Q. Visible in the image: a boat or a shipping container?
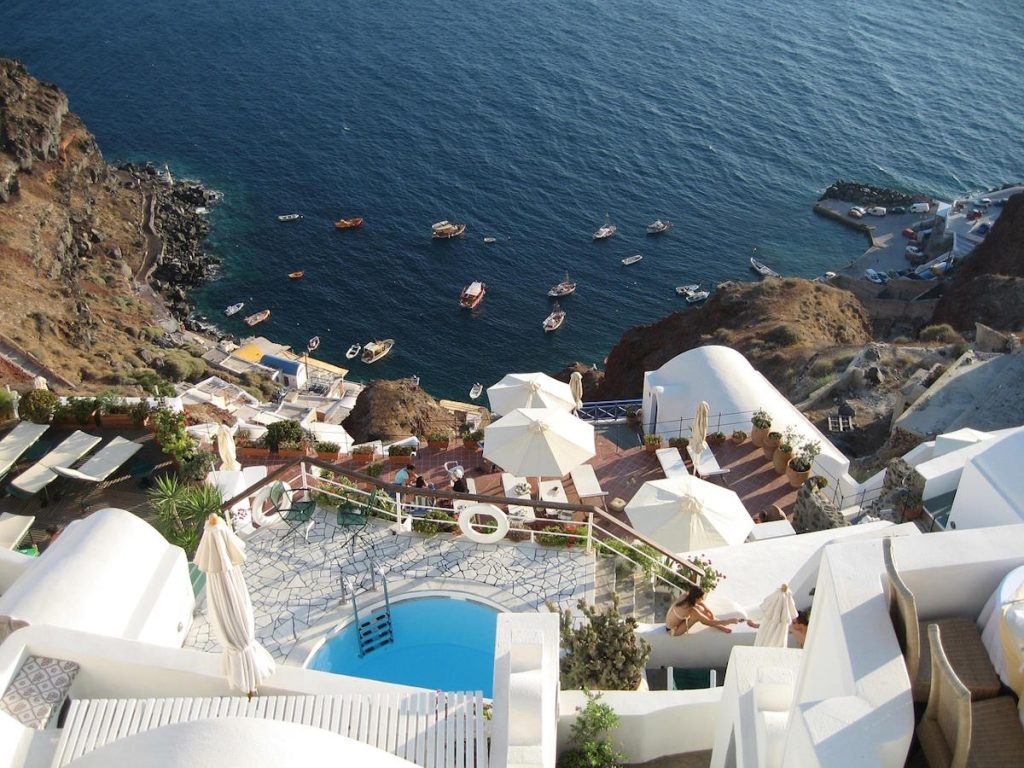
boat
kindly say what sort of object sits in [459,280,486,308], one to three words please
boat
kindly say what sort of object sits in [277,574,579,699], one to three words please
swimming pool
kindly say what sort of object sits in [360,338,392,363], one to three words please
boat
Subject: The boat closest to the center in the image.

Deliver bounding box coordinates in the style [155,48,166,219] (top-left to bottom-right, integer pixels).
[467,383,480,400]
